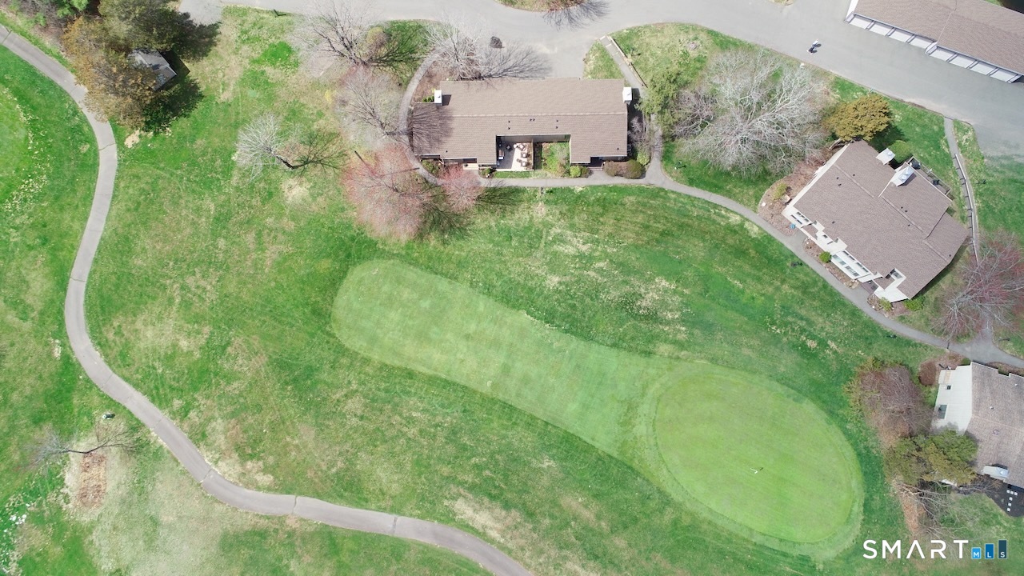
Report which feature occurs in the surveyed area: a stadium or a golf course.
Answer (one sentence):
The image shows a golf course.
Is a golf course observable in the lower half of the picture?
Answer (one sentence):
Yes, the scene does show a golf course in the lower half of the picture.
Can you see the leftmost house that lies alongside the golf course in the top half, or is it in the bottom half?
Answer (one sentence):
Seen from above, the leftmost house that lies alongside the golf course lies in the top half of the view.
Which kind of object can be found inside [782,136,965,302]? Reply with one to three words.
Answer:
house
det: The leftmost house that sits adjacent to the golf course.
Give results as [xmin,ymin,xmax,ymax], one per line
[412,79,632,171]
